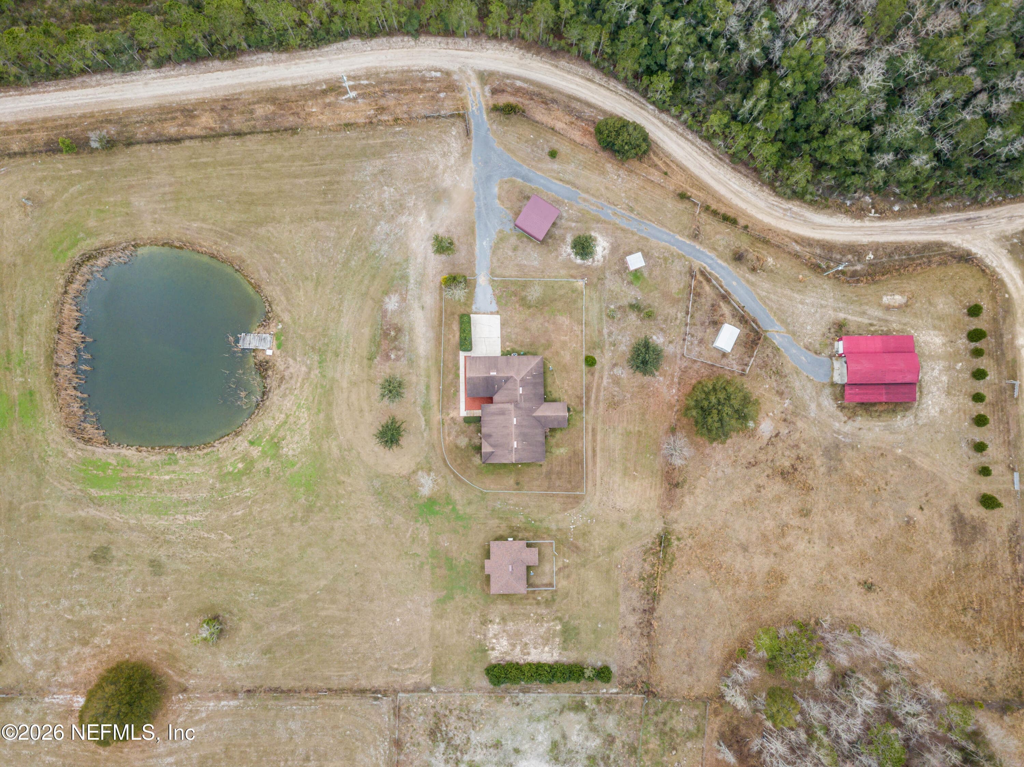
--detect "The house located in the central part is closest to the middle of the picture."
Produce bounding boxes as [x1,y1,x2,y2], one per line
[466,355,568,463]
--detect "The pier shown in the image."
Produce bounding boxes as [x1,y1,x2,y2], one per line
[237,333,273,349]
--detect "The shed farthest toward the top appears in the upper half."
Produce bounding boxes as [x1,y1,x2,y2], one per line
[514,194,560,244]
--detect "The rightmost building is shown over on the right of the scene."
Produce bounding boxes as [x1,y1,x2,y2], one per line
[837,335,920,402]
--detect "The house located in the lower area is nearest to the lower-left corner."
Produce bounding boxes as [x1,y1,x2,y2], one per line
[485,541,538,594]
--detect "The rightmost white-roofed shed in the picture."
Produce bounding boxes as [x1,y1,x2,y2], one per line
[711,324,740,353]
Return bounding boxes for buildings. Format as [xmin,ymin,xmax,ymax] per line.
[466,355,568,463]
[625,252,645,272]
[514,194,560,244]
[485,541,538,594]
[837,335,920,402]
[711,324,740,353]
